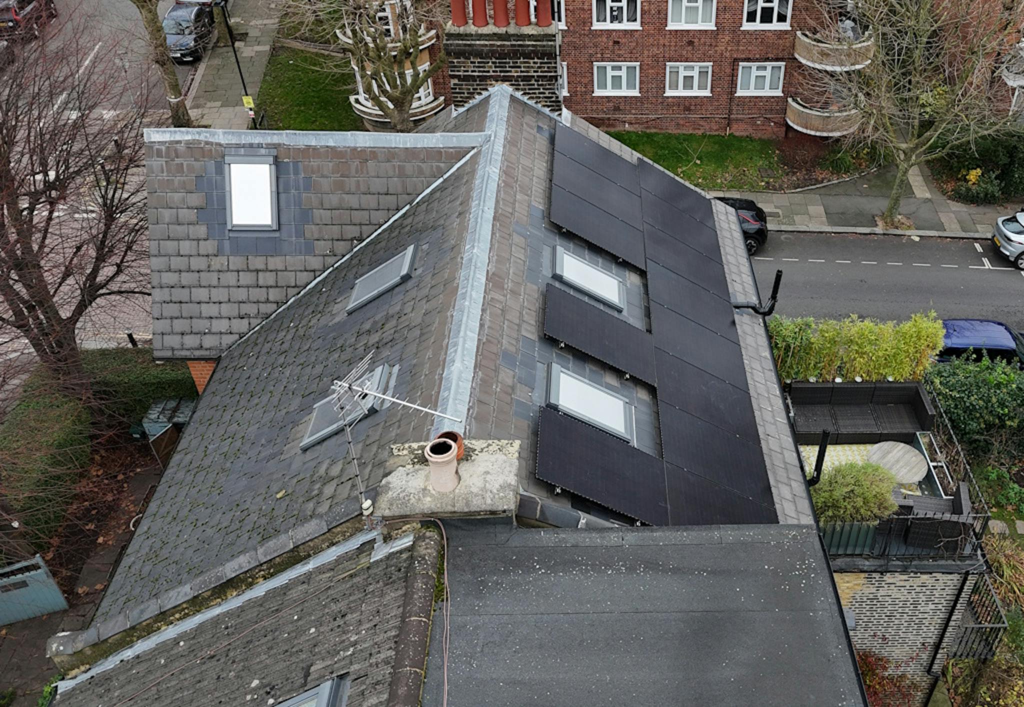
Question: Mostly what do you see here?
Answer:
buildings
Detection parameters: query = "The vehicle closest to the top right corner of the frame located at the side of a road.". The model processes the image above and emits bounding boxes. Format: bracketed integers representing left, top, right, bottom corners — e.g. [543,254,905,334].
[989,201,1024,272]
